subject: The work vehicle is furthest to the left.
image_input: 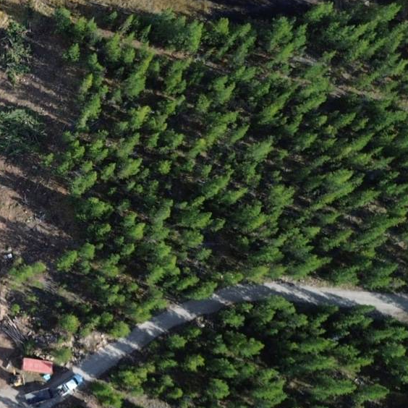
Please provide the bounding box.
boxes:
[4,358,26,387]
